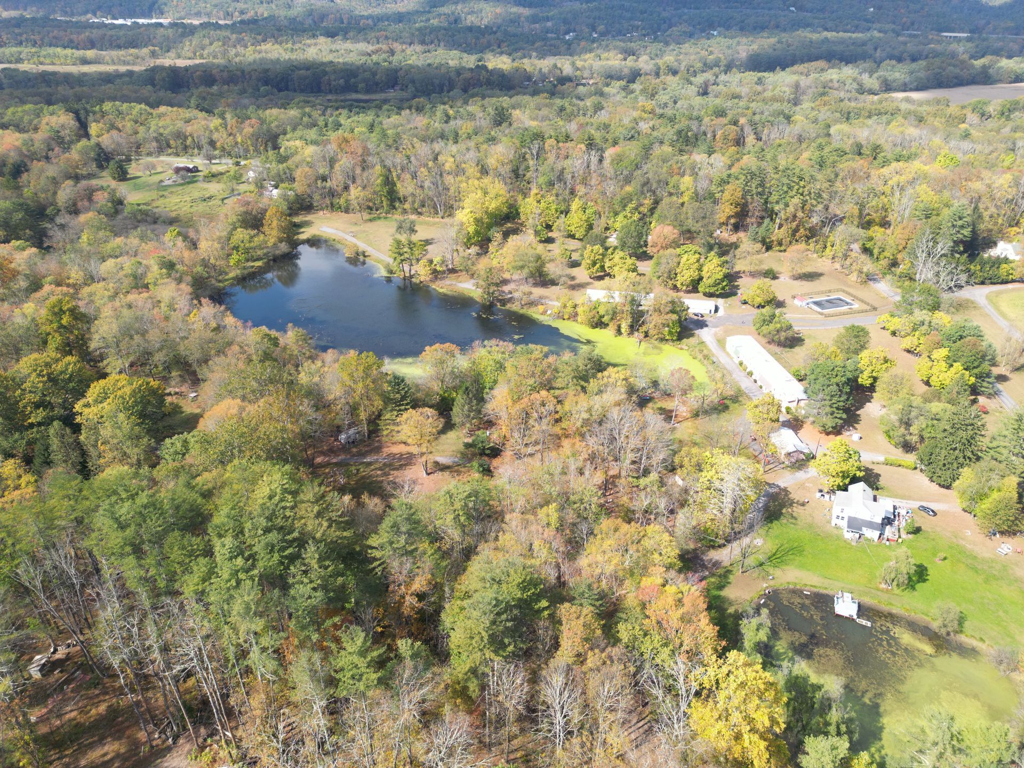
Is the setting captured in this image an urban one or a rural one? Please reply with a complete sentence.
This place is rural.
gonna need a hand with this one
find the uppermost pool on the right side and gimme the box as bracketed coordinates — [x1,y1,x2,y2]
[809,296,860,313]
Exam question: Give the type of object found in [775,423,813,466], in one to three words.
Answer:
barn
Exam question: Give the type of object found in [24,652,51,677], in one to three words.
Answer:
shed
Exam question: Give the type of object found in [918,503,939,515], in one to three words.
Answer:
vehicle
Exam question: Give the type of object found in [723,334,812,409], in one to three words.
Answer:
building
